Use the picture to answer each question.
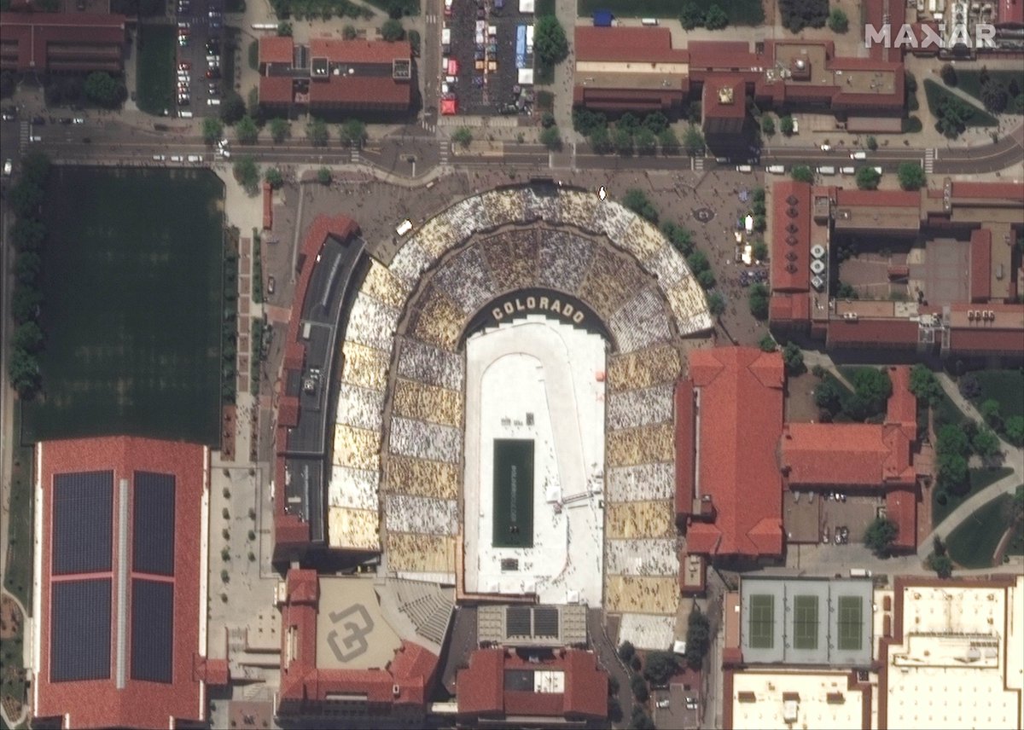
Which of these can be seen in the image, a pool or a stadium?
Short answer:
stadium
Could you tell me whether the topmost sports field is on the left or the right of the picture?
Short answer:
left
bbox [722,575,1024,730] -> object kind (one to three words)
building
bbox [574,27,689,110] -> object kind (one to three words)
building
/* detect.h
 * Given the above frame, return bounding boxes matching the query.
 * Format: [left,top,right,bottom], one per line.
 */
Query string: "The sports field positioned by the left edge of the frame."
[21,167,224,447]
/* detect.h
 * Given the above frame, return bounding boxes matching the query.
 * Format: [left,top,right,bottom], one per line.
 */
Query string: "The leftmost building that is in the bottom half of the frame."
[23,437,228,730]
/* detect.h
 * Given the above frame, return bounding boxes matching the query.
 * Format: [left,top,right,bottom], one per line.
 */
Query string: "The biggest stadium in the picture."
[319,181,715,653]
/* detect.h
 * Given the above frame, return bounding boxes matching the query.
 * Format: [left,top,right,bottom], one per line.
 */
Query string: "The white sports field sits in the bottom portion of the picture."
[457,290,617,609]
